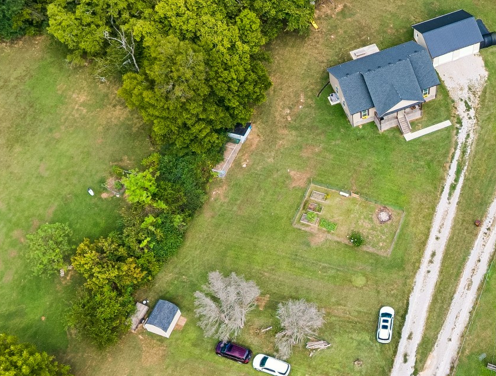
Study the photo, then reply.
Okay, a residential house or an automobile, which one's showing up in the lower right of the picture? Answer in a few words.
automobile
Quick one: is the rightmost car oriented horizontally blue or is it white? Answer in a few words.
white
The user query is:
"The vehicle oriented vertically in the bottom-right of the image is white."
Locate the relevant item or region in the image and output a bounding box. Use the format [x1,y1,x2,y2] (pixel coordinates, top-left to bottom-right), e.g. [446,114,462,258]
[377,308,395,345]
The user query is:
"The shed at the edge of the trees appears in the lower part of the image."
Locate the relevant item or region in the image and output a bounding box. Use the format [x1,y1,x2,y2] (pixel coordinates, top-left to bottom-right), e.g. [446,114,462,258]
[140,298,186,337]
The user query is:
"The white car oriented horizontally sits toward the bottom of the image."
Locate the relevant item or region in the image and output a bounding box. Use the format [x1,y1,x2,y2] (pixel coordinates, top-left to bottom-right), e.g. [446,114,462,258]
[252,355,292,376]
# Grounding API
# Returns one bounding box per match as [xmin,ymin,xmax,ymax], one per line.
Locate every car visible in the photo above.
[377,308,395,345]
[252,355,292,376]
[214,343,254,365]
